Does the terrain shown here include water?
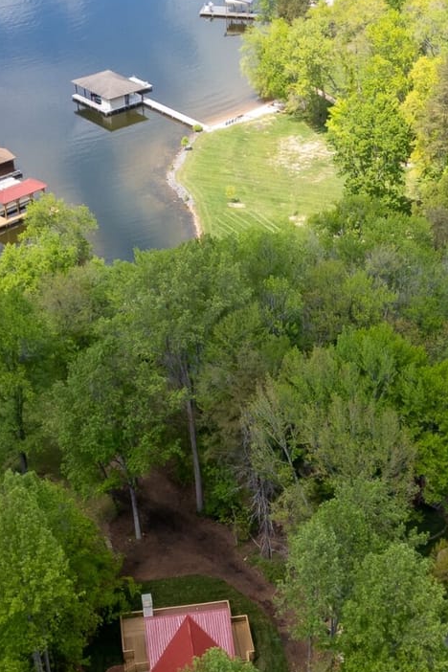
Yes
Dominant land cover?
trees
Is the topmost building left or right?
left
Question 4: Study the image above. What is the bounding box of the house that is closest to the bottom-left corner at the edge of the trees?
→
[111,603,246,672]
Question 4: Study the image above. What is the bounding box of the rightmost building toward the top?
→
[58,76,209,133]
